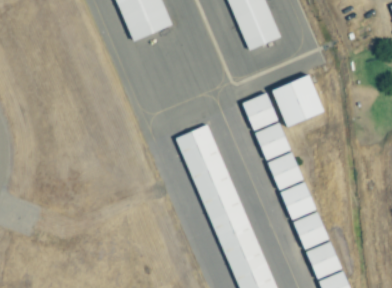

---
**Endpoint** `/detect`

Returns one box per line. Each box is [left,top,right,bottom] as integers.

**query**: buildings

[116,0,173,41]
[282,182,316,220]
[320,272,350,288]
[268,153,304,190]
[256,123,290,160]
[294,212,329,250]
[307,242,342,279]
[242,94,278,131]
[272,75,324,127]
[228,0,282,50]
[176,124,279,288]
